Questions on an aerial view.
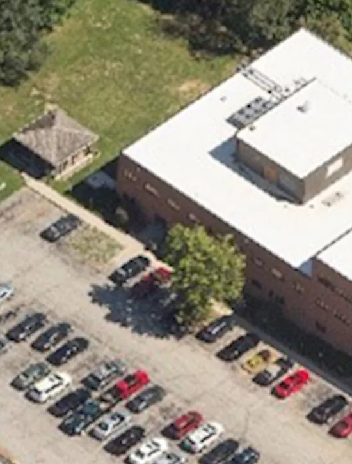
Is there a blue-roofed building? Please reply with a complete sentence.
No, there appears to be no blue-roofed building in this shot.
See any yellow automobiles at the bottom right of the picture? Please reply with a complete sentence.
Yes, a yellow automobile shows up at the bottom right of the picture.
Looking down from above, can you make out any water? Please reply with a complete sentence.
No, the picture contains no water.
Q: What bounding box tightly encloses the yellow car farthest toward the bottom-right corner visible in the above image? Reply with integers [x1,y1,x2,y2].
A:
[238,347,276,378]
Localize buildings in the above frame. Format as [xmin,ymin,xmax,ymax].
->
[123,30,352,357]
[11,108,99,181]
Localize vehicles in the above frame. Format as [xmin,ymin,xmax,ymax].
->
[103,424,145,458]
[198,313,235,344]
[101,369,151,406]
[30,321,72,354]
[82,355,124,392]
[252,357,293,388]
[48,386,91,420]
[225,448,261,464]
[272,369,312,400]
[109,254,150,287]
[90,410,132,442]
[129,267,166,299]
[0,308,16,321]
[238,347,276,378]
[47,336,90,368]
[10,356,54,393]
[219,327,261,364]
[38,213,80,245]
[161,405,204,444]
[59,397,108,438]
[198,438,241,464]
[126,433,169,464]
[180,418,223,456]
[330,412,352,440]
[28,368,71,404]
[125,384,167,417]
[308,393,350,427]
[6,308,49,345]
